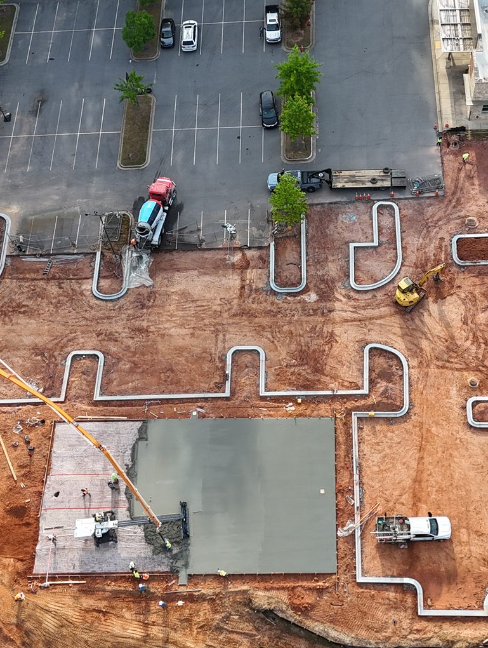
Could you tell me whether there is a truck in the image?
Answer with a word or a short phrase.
Yes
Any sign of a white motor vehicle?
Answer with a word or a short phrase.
Yes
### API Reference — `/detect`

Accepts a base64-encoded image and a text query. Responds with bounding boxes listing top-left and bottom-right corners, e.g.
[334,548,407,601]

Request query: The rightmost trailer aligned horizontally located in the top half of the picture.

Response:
[313,163,408,186]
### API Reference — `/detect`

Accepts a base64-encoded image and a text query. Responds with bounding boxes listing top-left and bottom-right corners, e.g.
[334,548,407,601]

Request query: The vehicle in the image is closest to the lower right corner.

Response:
[374,513,451,544]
